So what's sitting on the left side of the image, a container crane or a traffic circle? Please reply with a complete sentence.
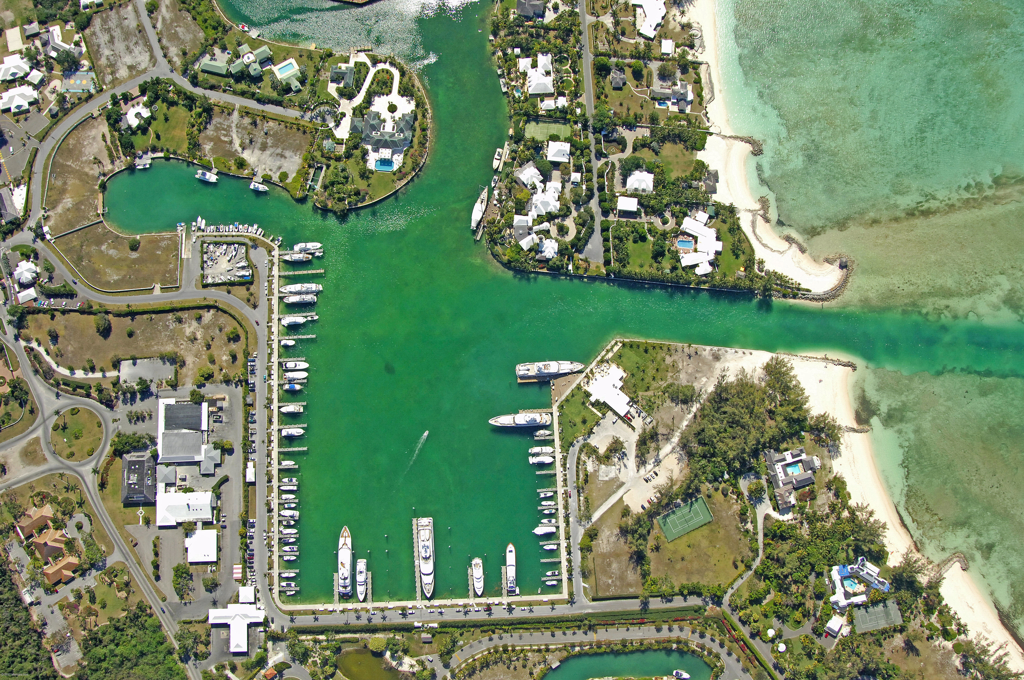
There is a traffic circle on the left side of the image.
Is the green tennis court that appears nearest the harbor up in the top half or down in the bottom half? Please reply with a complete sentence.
The green tennis court that appears nearest the harbor is in the bottom half of the image.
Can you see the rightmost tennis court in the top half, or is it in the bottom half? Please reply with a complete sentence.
The bottom half of the photo is where the rightmost tennis court is.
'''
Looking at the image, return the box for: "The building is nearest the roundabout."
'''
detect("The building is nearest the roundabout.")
[121,453,157,503]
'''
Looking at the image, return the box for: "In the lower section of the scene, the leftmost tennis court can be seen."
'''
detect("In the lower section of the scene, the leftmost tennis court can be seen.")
[657,497,715,542]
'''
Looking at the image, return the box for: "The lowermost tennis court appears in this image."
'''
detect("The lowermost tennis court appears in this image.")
[852,601,904,631]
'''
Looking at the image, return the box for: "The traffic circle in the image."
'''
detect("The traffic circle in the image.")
[42,399,112,470]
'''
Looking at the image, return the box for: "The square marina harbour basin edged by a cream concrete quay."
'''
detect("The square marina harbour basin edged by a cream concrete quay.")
[192,231,616,610]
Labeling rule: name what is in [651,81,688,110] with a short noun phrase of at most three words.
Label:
house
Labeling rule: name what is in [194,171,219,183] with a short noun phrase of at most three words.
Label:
boat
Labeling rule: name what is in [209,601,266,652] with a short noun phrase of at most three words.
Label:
building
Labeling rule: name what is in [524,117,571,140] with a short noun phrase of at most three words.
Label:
tennis court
